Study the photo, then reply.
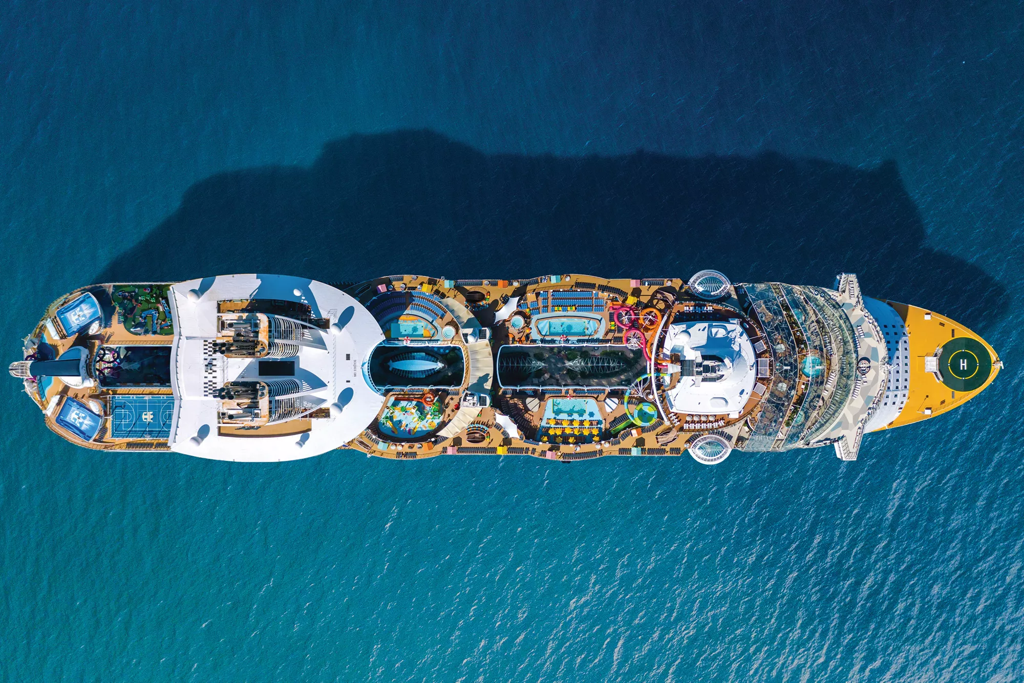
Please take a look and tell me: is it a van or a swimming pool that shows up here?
swimming pool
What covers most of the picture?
water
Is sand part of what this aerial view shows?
No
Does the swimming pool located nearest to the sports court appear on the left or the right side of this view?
left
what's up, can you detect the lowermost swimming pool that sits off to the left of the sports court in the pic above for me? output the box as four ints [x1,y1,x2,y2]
[43,393,105,442]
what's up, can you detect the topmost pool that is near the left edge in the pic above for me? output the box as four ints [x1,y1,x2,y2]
[42,292,105,340]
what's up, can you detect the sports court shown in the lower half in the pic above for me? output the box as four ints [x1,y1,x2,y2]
[111,396,177,438]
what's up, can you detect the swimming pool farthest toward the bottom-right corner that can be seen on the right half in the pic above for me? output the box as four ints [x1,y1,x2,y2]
[801,357,821,378]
